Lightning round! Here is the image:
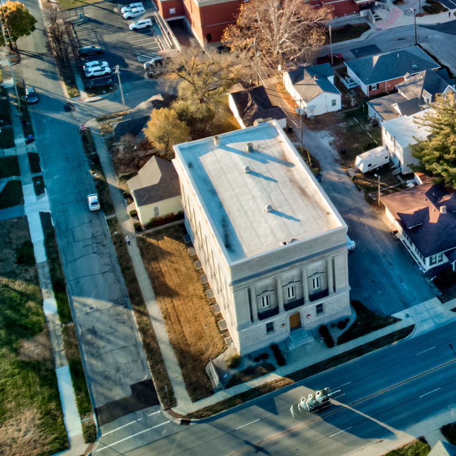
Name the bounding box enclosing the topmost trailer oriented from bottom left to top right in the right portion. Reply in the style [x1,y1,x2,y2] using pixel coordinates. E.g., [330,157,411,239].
[353,144,389,180]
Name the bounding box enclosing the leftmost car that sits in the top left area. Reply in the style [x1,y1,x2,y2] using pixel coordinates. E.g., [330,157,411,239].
[25,86,38,102]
